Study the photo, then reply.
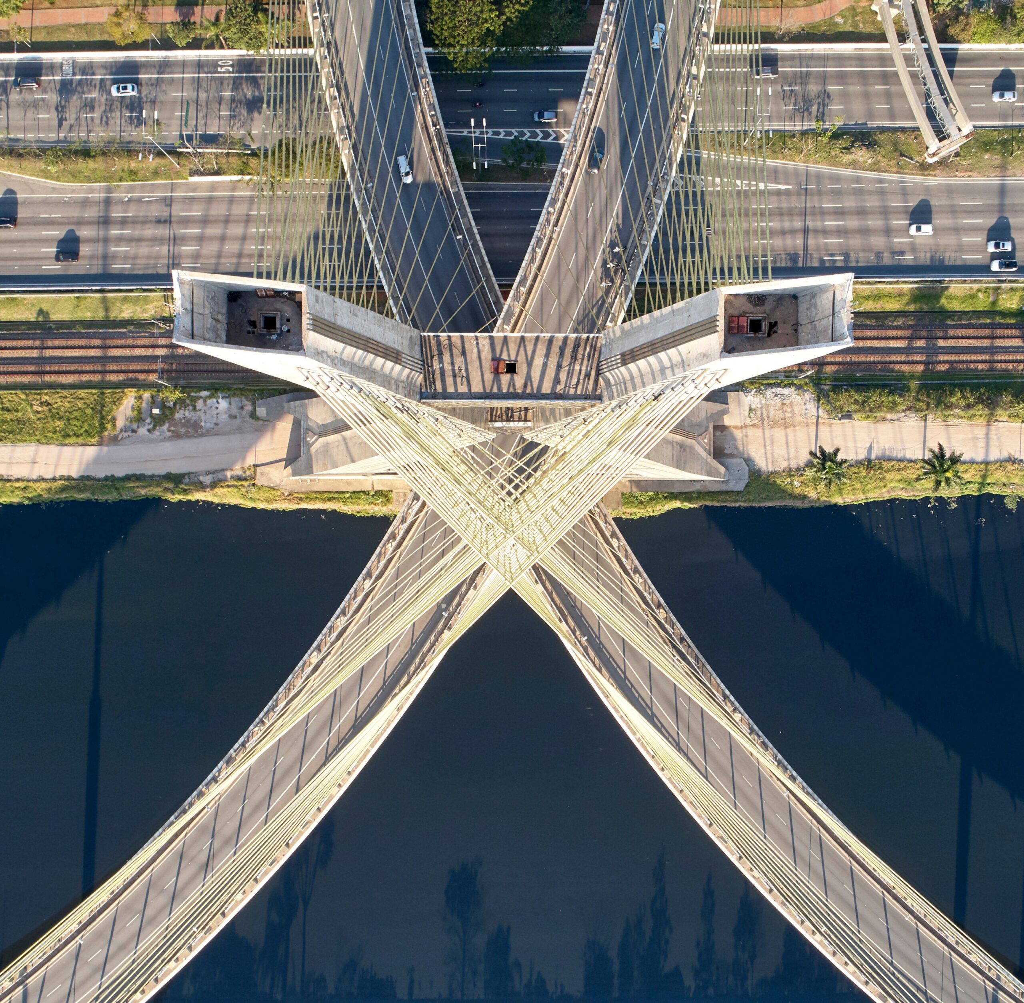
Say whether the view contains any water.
Yes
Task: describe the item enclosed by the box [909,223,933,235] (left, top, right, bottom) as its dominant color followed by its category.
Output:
white vehicle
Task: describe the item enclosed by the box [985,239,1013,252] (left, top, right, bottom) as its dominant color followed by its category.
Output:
white vehicle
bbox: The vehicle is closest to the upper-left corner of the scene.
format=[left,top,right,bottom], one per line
[13,75,41,90]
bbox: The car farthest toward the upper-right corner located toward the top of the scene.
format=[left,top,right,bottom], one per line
[990,90,1018,103]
